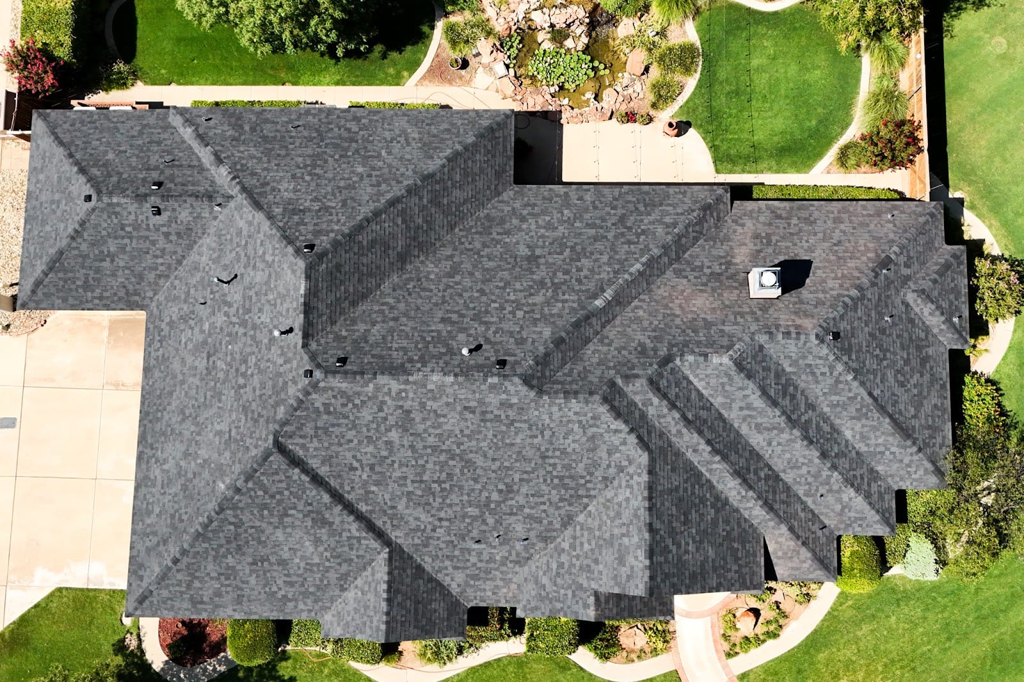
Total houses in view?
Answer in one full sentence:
I count 1 house.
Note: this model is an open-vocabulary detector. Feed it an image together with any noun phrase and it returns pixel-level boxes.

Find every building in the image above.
[17,106,969,647]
